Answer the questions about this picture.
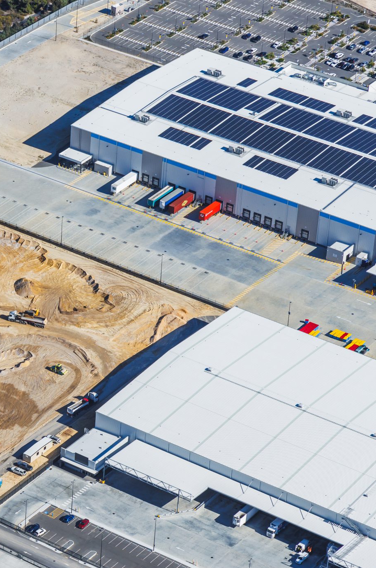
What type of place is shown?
industrial area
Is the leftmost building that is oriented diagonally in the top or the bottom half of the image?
bottom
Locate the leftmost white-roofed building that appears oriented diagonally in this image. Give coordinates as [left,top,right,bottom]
[24,437,52,463]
